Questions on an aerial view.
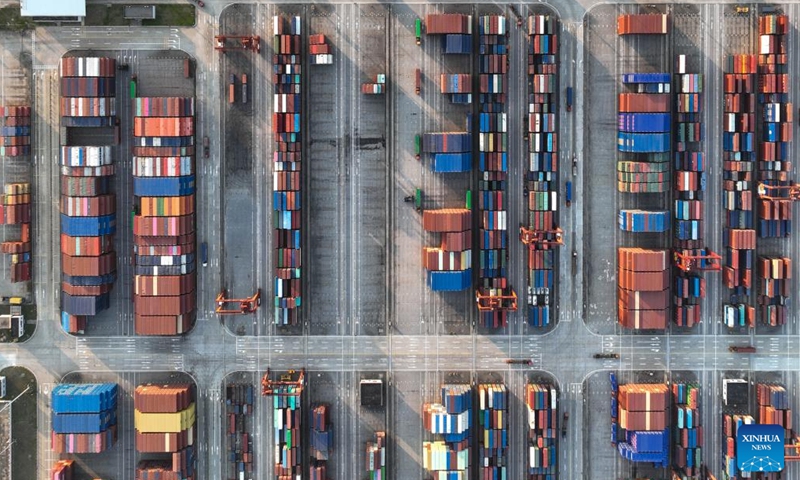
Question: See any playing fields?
No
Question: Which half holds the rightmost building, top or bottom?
bottom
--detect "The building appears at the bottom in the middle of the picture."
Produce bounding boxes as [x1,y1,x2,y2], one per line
[361,378,383,408]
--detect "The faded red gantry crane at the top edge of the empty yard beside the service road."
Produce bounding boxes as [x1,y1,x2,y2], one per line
[213,35,260,56]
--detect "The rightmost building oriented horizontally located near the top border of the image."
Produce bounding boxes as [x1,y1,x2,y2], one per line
[123,4,155,19]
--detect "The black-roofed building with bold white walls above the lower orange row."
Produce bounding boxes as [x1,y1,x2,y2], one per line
[719,377,745,405]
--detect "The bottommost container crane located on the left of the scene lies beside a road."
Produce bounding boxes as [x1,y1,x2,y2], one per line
[261,364,306,397]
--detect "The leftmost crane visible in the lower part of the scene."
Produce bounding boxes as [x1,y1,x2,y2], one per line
[213,288,260,316]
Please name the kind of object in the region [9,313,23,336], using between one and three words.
building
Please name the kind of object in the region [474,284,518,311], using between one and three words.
container crane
